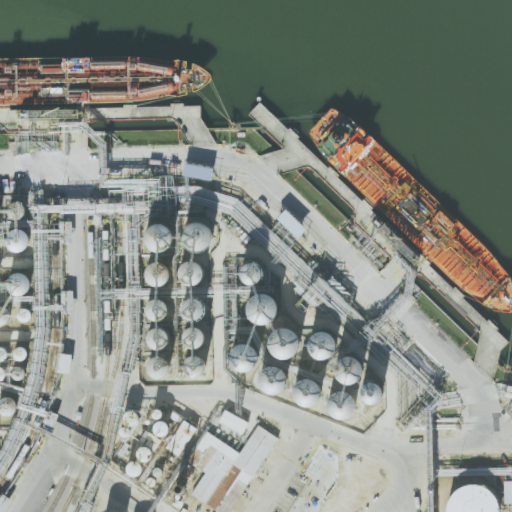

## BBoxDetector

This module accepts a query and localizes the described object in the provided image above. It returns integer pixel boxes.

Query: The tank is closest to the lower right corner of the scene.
[443,484,499,512]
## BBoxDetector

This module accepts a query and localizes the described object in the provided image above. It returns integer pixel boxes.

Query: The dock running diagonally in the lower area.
[413,254,508,378]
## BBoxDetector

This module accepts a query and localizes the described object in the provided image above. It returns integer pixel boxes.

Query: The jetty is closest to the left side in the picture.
[0,103,215,145]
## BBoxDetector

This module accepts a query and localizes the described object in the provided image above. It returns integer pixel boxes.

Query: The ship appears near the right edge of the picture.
[310,108,512,312]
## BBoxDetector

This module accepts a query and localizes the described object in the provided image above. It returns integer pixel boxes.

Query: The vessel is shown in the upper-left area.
[0,58,212,104]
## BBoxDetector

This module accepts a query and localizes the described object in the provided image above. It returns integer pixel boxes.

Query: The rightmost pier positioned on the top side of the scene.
[250,103,383,223]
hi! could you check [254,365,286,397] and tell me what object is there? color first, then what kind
white storage tank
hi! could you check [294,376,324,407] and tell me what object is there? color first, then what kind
white storage tank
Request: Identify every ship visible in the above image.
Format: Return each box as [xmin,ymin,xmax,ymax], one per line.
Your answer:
[0,58,212,104]
[310,108,512,312]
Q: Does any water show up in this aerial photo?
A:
Yes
